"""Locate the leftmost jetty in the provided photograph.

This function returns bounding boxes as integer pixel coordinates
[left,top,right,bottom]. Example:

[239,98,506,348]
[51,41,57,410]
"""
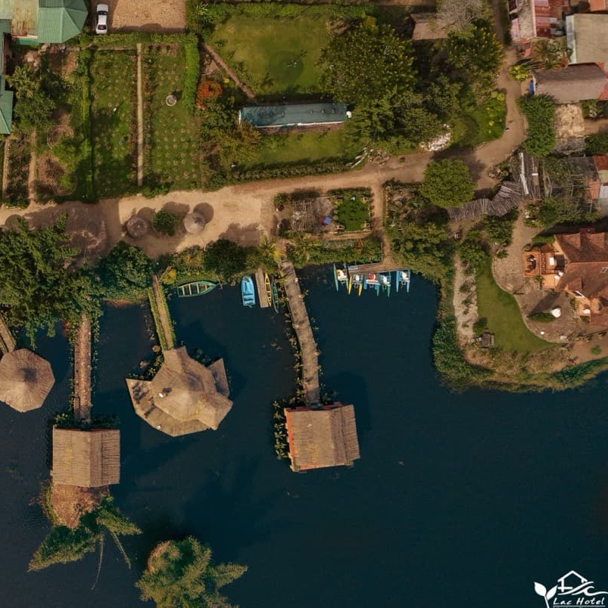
[254,269,271,309]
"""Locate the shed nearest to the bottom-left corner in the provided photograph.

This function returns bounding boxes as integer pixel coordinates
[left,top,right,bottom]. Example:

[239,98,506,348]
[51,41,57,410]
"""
[52,427,121,487]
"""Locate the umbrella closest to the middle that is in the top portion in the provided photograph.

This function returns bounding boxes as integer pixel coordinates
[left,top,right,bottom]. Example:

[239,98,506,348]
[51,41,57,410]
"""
[182,211,206,234]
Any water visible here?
Yes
